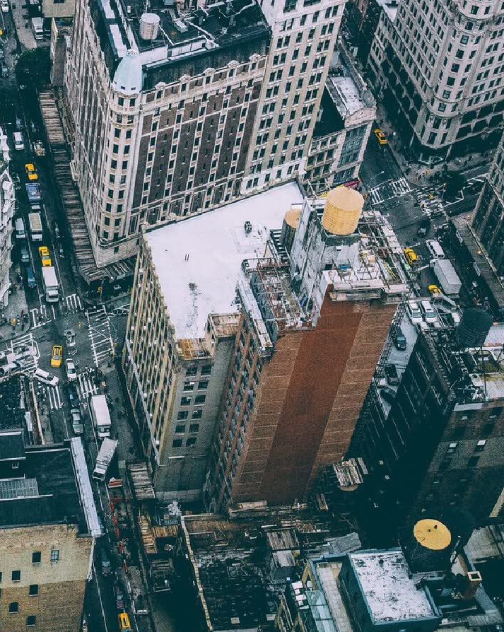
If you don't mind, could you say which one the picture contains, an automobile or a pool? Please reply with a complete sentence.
This aerial view contains an automobile.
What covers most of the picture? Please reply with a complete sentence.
What you mostly see from above here is buildings.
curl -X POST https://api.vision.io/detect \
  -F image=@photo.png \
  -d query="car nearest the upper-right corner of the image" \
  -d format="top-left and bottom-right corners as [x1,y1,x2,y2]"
[375,129,387,143]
